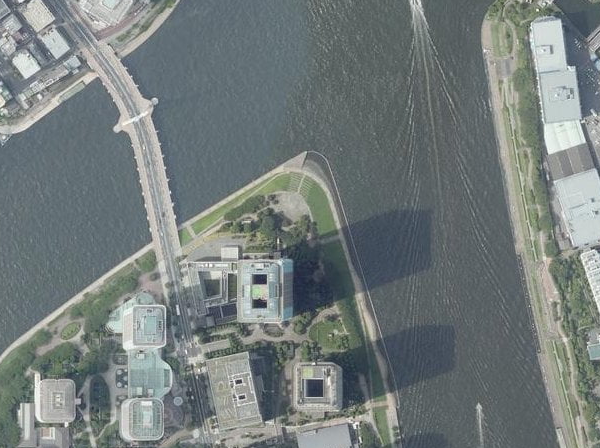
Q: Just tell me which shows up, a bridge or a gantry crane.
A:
bridge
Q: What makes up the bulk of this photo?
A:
water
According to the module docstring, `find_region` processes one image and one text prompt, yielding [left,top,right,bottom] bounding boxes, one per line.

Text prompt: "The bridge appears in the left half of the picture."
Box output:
[84,37,180,246]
